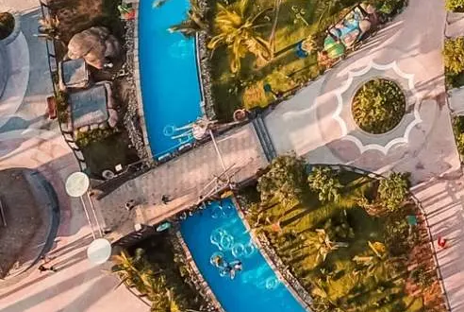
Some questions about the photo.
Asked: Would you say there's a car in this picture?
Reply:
No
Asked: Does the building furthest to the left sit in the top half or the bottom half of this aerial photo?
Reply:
bottom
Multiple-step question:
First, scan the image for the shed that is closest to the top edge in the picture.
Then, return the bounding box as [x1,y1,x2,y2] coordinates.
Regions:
[57,59,93,89]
